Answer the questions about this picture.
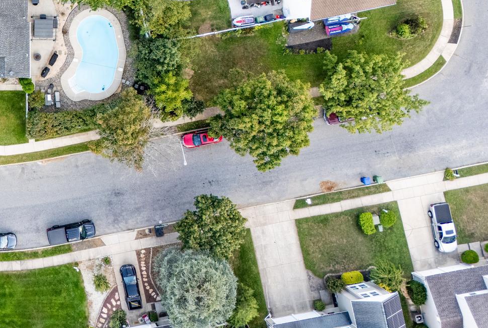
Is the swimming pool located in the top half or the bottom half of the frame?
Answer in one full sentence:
The swimming pool is in the top half of the image.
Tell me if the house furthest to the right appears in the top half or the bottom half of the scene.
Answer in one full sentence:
It is in the bottom half that the house furthest to the right appears.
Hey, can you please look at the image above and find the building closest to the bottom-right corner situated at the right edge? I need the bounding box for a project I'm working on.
[413,257,488,328]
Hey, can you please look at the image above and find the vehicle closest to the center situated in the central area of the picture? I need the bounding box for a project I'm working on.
[180,129,223,149]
